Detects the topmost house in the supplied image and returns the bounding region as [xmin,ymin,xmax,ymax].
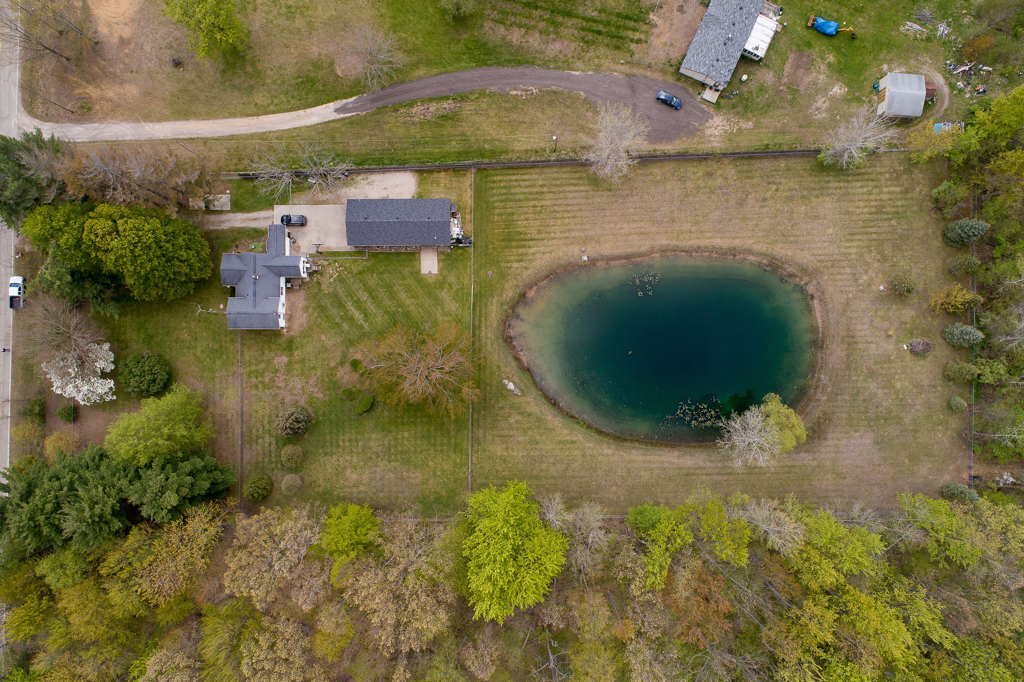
[678,0,766,90]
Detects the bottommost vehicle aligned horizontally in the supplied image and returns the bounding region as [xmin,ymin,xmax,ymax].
[279,212,307,226]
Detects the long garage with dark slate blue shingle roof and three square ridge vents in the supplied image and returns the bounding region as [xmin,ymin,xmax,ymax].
[345,198,450,246]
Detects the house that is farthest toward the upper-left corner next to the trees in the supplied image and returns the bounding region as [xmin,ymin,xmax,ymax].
[221,224,307,329]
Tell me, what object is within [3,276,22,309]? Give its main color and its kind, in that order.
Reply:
white vehicle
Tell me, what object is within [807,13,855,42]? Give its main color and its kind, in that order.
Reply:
blue work vehicle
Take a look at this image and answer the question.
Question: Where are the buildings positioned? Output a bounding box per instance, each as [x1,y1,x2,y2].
[878,72,927,120]
[678,0,766,90]
[345,198,450,246]
[221,224,307,329]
